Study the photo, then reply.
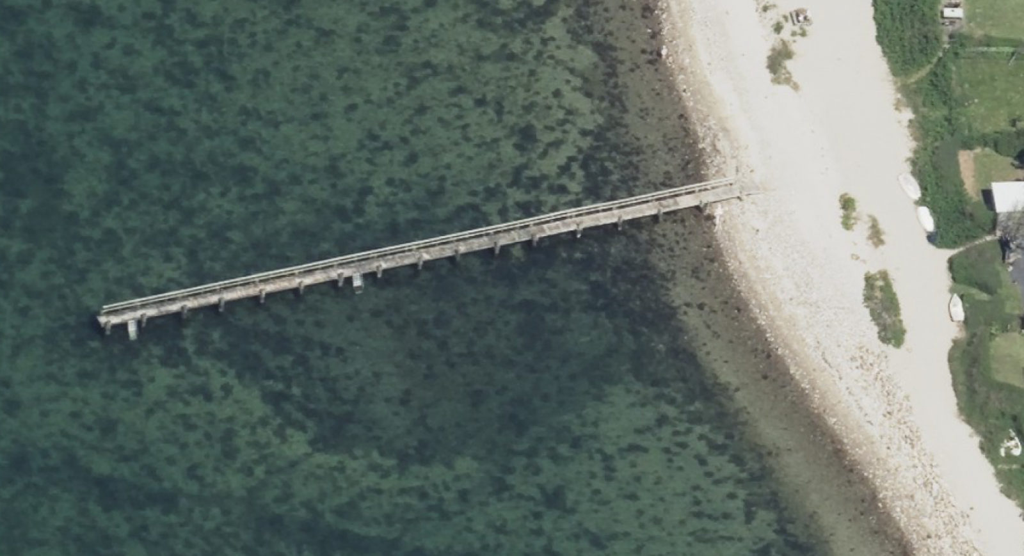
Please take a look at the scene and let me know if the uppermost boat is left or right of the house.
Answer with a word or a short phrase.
on its left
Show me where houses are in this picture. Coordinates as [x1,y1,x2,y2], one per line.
[994,181,1024,220]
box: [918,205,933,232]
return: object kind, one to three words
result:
boat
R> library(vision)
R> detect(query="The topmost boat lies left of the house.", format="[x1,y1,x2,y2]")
[899,171,922,200]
